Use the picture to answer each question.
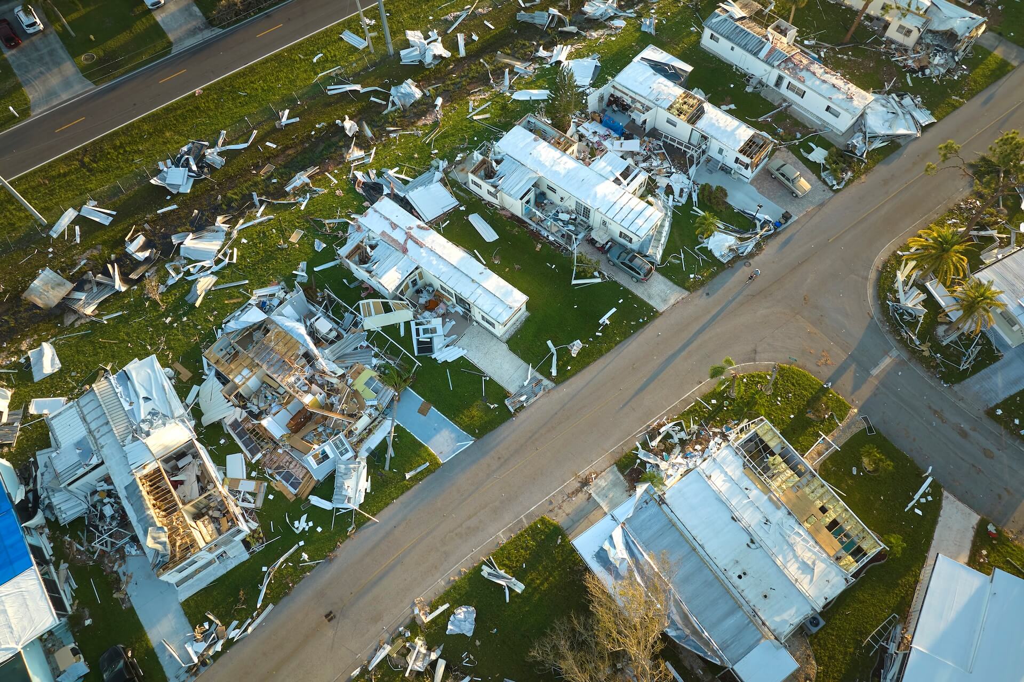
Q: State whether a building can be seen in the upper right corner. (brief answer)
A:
Yes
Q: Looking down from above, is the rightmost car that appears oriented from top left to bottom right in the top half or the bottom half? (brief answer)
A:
top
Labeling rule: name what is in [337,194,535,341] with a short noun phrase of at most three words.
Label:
house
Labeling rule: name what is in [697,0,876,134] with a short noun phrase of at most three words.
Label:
house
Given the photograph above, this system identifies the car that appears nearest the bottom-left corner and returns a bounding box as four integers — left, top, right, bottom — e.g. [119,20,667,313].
[93,633,152,682]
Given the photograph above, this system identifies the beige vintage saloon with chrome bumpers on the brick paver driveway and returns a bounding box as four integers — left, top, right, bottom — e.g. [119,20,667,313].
[764,159,813,200]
